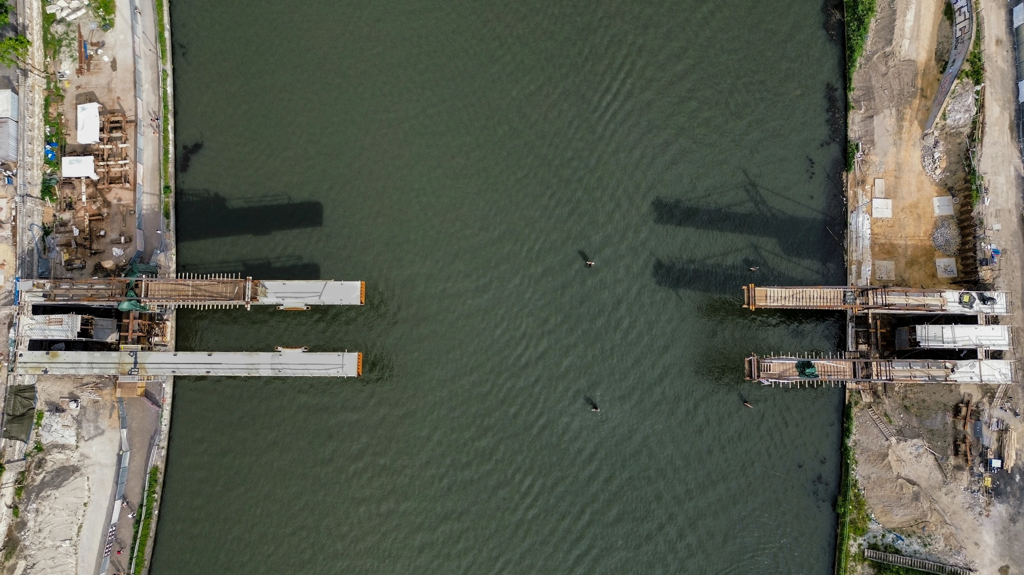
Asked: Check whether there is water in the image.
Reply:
Yes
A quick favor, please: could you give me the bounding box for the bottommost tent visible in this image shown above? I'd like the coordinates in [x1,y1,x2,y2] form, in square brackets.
[63,156,103,179]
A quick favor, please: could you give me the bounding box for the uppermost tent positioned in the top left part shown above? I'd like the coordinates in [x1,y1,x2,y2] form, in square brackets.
[77,102,107,145]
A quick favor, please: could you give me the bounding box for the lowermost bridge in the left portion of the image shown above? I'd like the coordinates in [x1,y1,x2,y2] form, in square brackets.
[18,347,363,377]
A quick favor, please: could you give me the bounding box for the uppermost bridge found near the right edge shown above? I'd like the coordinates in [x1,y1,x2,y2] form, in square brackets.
[741,284,1014,315]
